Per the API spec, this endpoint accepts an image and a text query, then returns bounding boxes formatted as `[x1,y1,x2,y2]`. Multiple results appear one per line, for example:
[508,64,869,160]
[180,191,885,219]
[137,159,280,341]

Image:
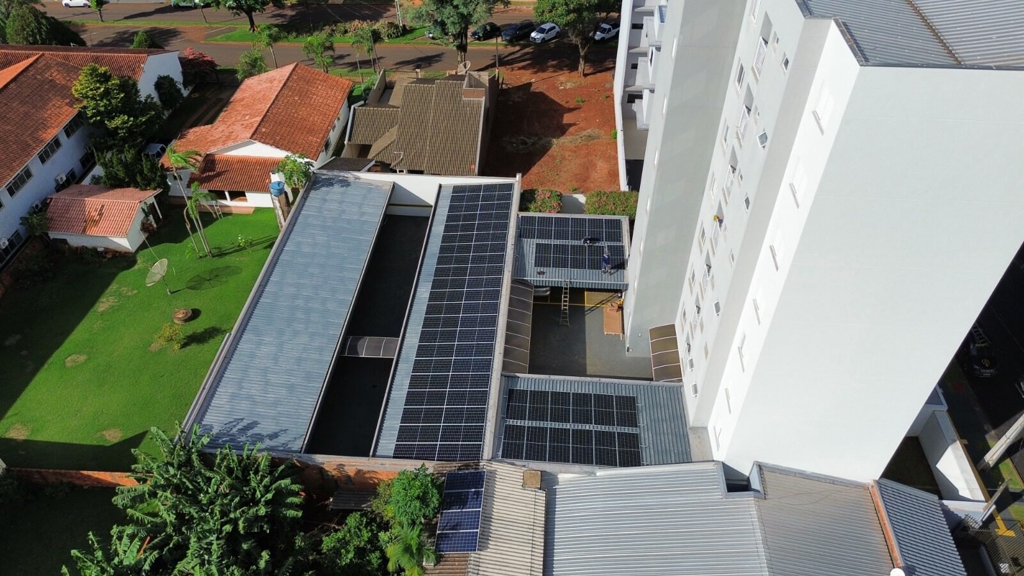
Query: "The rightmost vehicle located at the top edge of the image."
[591,22,622,44]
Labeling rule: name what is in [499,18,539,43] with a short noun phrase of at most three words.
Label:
car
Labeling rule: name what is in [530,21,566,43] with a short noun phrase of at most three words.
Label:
car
